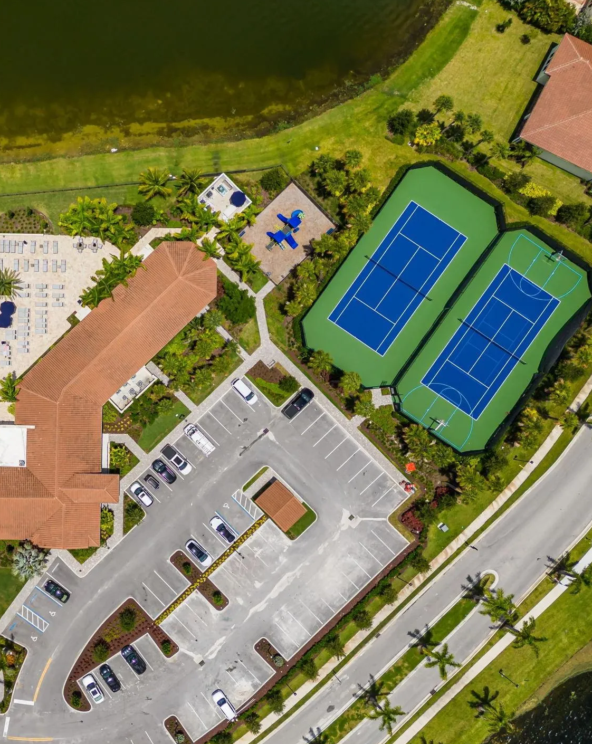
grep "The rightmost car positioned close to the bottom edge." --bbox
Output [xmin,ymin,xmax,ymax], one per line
[211,688,240,723]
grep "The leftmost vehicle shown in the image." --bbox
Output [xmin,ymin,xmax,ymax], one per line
[44,577,72,605]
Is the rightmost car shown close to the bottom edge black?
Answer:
No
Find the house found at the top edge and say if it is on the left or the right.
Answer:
right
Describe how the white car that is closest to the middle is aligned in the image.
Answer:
diagonally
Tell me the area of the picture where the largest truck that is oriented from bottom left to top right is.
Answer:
center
